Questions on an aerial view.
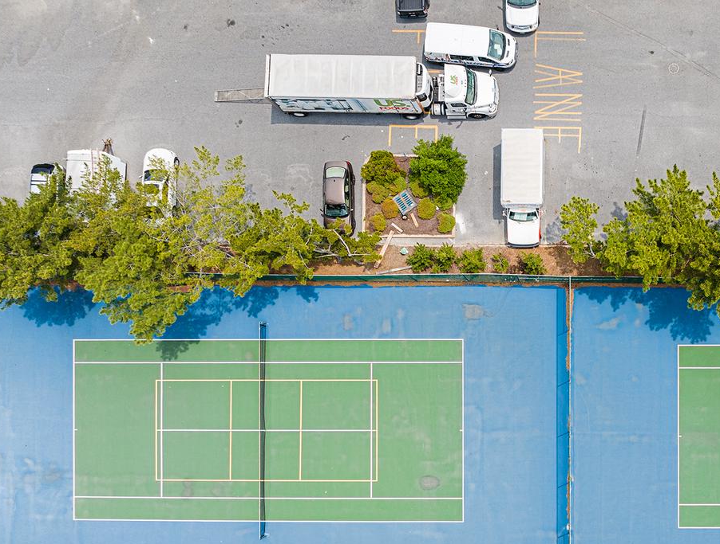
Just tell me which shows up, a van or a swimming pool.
van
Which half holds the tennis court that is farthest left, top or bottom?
bottom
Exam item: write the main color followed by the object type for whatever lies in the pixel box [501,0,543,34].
white car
